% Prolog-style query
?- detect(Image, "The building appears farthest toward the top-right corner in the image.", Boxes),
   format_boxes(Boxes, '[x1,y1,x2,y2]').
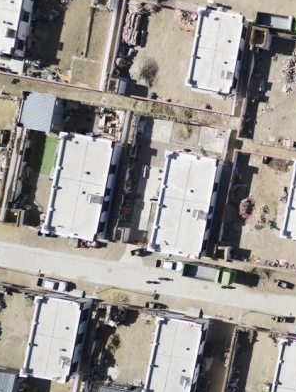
[184,9,253,96]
